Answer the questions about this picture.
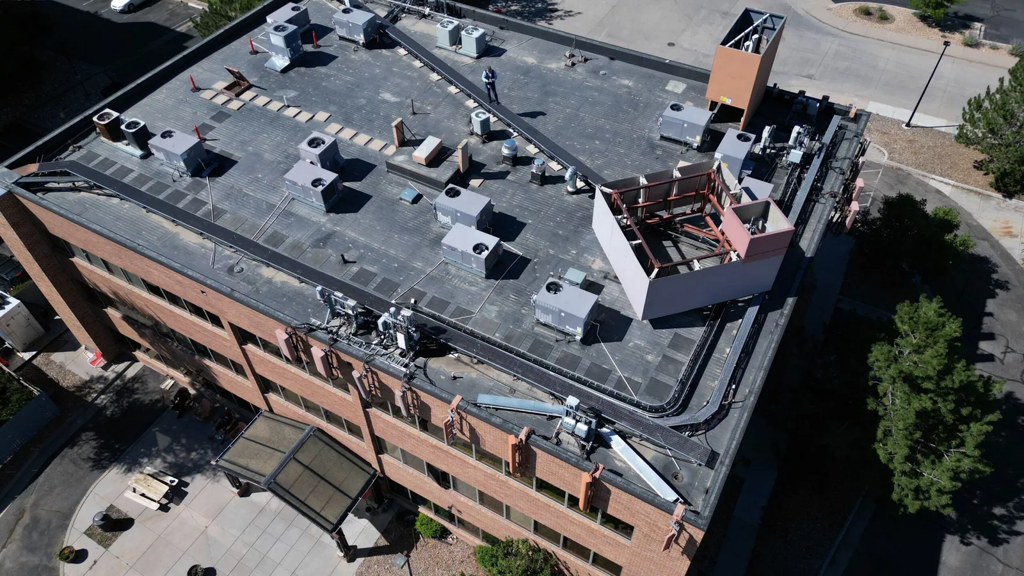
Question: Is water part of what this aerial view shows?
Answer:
No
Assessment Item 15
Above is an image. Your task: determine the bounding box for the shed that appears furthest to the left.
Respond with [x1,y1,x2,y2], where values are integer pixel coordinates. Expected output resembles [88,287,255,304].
[0,291,45,351]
